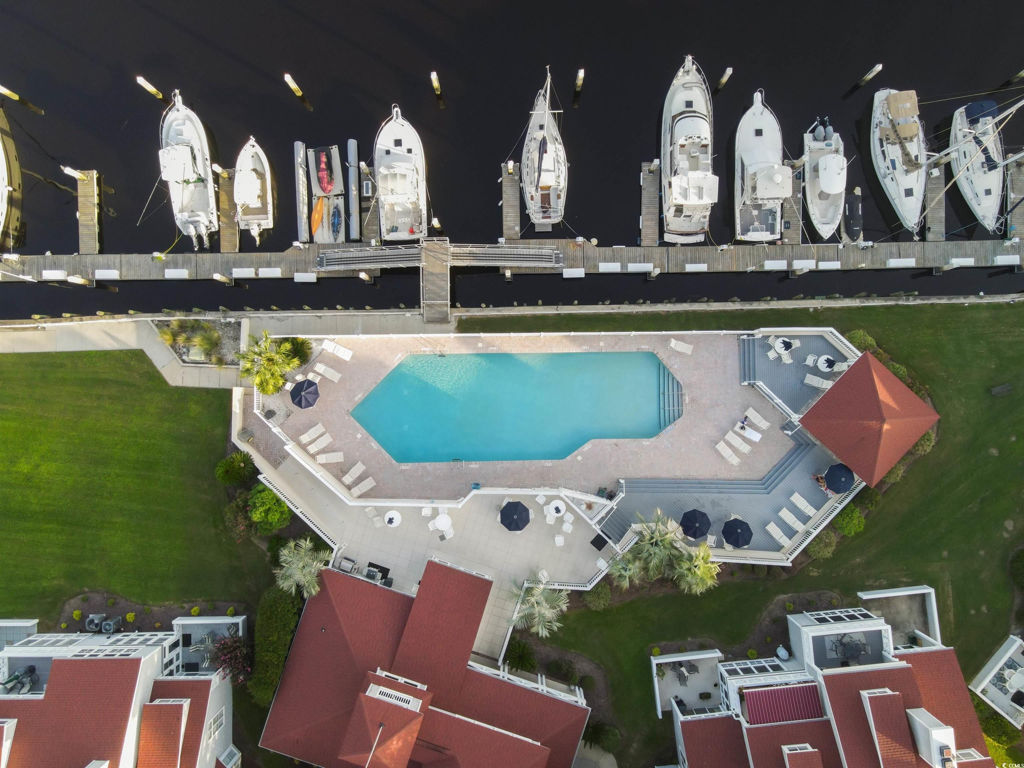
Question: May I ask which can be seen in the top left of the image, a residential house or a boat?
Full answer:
The feature located in the top left of the image is a boat.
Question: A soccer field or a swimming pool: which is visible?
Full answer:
The one in the frame is a swimming pool.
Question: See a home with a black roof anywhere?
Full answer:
No, I can see no home with a black roof in this picture.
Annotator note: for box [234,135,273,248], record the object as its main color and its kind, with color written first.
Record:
white boat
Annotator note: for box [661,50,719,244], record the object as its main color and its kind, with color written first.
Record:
white boat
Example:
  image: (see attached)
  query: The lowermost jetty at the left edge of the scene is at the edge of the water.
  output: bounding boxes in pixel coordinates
[0,243,381,283]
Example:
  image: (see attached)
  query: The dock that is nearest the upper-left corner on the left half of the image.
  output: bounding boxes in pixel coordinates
[76,171,101,254]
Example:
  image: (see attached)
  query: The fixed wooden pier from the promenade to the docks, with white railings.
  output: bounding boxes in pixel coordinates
[422,238,452,323]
